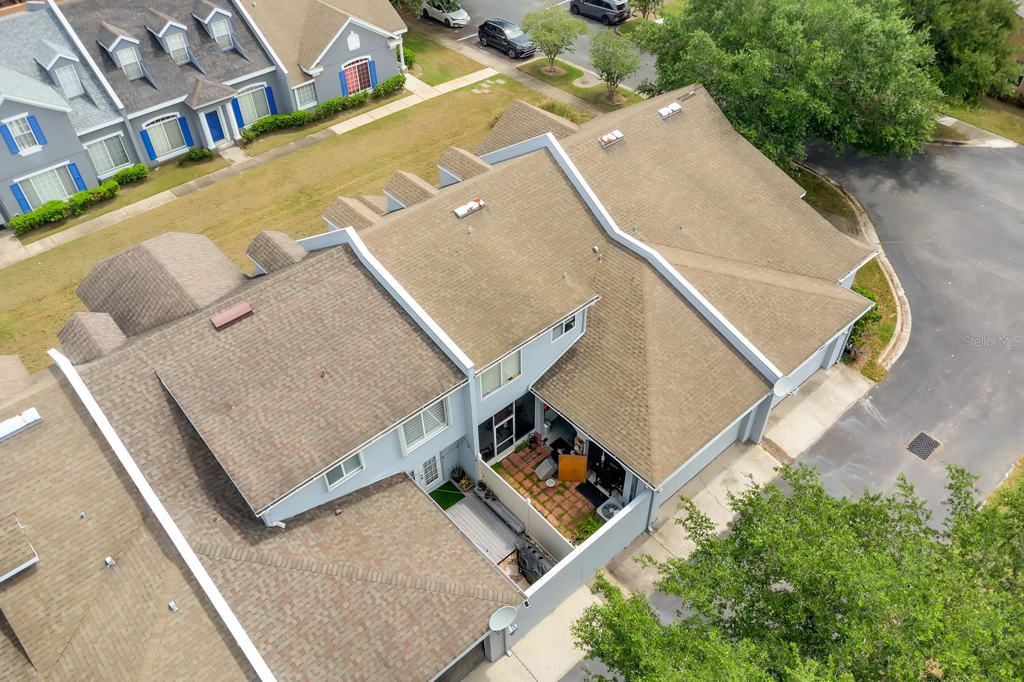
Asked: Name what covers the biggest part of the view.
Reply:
buildings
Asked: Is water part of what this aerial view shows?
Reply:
No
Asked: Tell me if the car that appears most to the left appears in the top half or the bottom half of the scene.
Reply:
top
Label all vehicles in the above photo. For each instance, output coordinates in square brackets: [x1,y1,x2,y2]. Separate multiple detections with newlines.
[476,15,545,62]
[418,0,473,28]
[568,0,637,27]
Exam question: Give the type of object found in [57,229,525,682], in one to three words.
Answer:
house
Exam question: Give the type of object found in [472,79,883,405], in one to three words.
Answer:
house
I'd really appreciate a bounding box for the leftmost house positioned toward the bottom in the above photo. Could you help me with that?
[0,353,259,682]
